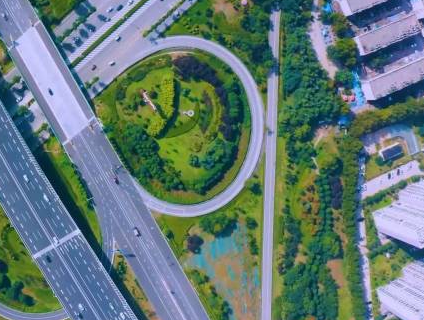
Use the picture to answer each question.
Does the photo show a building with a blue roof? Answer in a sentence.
Yes, the photo shows a building with a blue roof.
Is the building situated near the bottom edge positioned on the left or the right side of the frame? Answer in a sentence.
The building situated near the bottom edge is on the right side of the image.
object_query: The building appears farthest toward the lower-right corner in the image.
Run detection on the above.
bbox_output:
[377,261,424,320]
